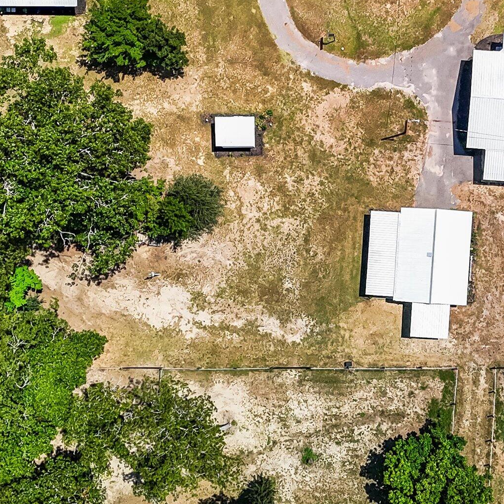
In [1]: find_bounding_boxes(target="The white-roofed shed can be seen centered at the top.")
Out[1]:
[214,116,257,148]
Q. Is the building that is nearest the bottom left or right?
right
